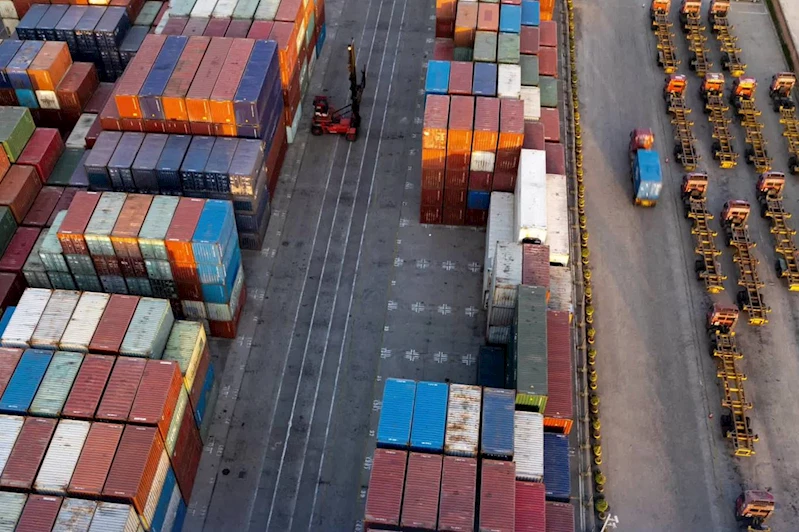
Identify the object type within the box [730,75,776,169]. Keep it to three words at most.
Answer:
truck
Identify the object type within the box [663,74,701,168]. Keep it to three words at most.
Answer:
truck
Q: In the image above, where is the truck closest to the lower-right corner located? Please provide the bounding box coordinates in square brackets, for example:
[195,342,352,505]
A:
[736,488,775,532]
